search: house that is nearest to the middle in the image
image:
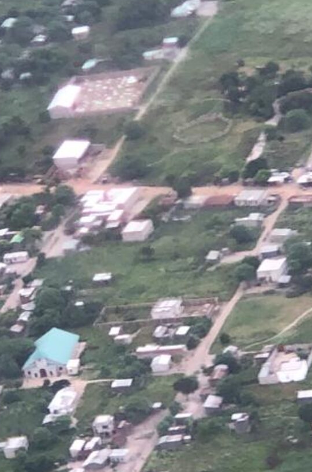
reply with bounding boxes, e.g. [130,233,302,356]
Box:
[121,219,151,242]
